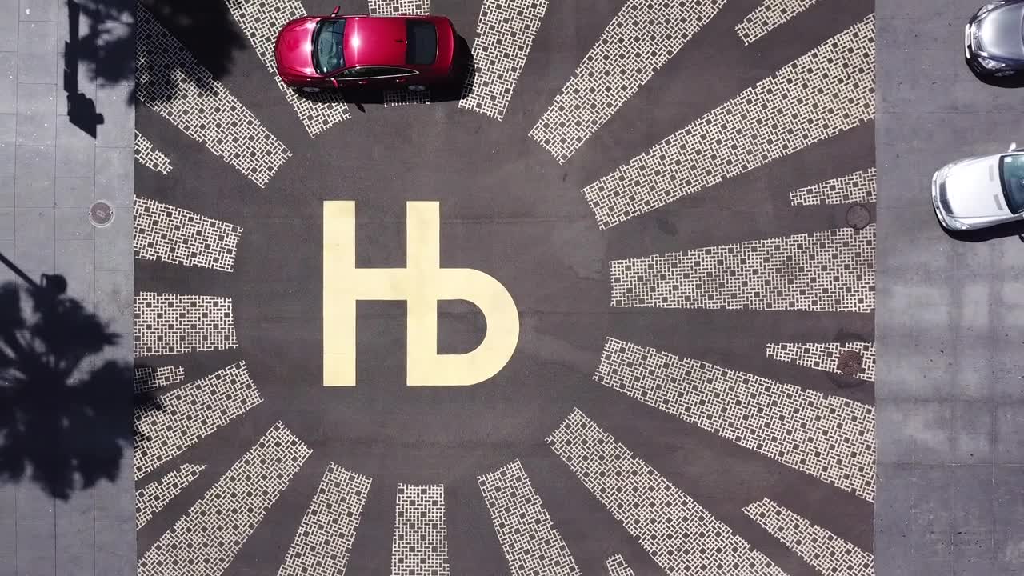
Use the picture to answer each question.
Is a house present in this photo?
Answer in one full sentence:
No, I find no house anywhere in the image.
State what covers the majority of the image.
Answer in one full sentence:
The largest share of the image is taken up by paved ground.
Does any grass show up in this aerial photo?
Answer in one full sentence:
No, no grass is visible.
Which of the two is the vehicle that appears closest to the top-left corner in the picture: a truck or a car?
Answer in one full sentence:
It looks like the vehicle that appears closest to the top-left corner is a car.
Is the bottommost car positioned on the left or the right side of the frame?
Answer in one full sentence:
You can find the bottommost car on the right side of the picture.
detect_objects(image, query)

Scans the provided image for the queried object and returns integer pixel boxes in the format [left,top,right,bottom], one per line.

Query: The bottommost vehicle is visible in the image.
[931,138,1024,224]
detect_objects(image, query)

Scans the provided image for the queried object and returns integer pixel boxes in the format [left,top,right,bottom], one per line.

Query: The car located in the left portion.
[274,4,456,91]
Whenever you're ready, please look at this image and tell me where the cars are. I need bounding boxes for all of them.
[274,4,456,91]
[931,138,1024,224]
[964,0,1024,69]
